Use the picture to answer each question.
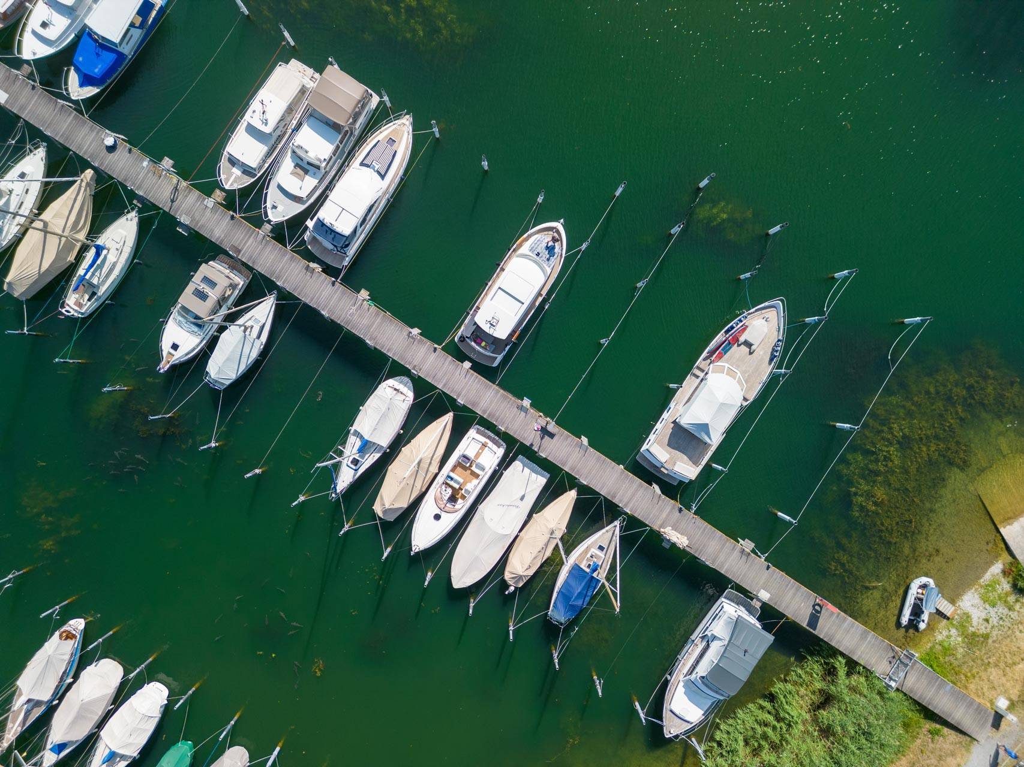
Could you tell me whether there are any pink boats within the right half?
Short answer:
No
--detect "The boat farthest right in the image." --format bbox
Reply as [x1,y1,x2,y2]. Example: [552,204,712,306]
[891,576,934,637]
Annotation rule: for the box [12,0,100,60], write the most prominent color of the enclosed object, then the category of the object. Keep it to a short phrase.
white boat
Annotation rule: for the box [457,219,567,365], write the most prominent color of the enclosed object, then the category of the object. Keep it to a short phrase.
white boat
